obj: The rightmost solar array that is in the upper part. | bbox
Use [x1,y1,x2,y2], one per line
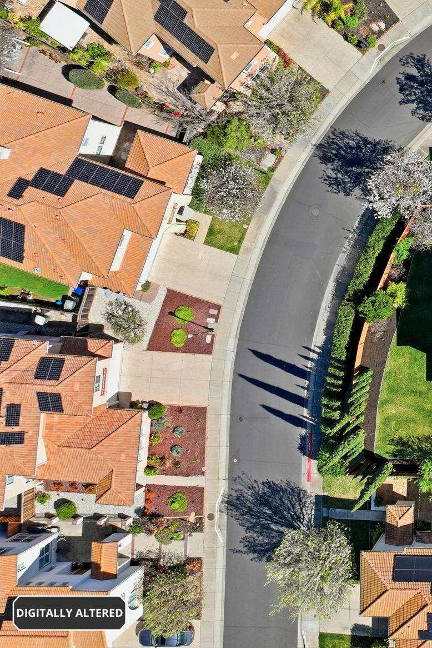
[152,0,213,63]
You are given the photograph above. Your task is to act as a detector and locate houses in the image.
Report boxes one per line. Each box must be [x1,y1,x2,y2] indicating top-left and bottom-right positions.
[68,0,302,110]
[0,528,145,648]
[0,83,204,299]
[0,332,154,512]
[359,495,432,648]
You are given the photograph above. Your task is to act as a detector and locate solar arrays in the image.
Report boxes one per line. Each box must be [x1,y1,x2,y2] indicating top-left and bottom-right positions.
[419,615,432,641]
[7,157,142,199]
[32,357,64,380]
[392,557,432,582]
[34,392,62,413]
[0,339,13,361]
[82,0,112,23]
[0,432,24,445]
[0,218,23,263]
[152,0,213,63]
